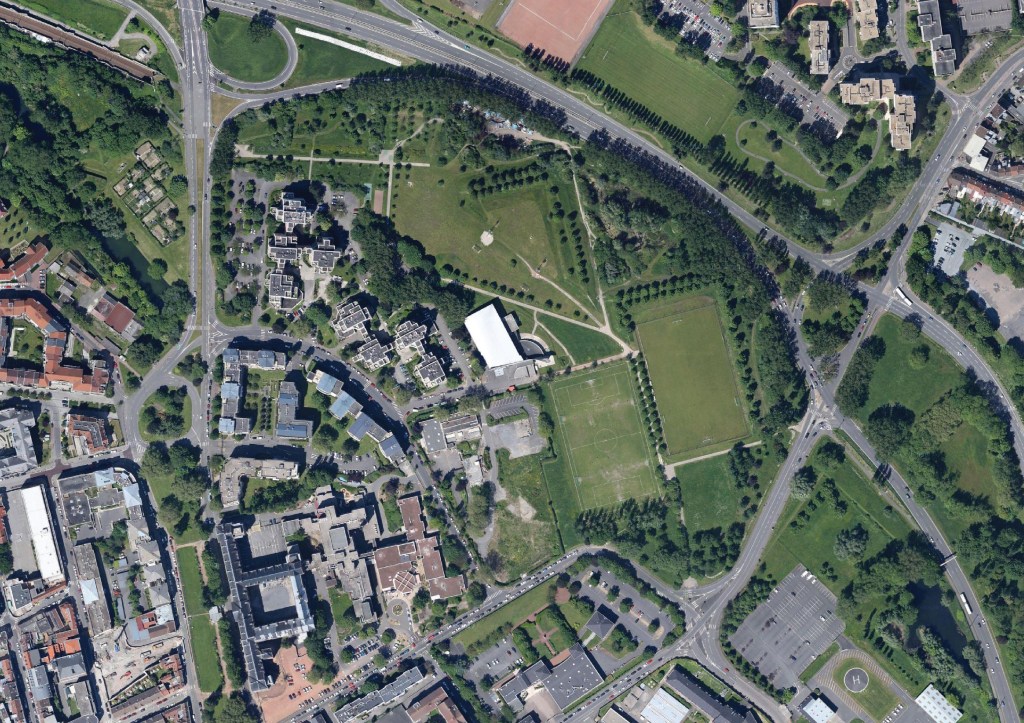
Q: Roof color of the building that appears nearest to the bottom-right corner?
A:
white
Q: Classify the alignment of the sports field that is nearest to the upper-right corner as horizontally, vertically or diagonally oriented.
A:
diagonally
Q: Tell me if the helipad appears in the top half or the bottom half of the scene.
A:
bottom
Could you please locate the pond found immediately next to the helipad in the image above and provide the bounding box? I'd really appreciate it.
[905,583,984,686]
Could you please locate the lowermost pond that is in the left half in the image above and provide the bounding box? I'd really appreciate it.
[100,234,173,306]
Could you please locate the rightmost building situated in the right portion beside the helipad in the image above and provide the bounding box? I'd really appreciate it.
[915,684,963,723]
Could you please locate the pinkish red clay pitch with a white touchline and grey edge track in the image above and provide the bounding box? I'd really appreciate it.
[497,0,612,65]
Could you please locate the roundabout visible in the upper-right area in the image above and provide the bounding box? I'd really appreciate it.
[835,48,863,76]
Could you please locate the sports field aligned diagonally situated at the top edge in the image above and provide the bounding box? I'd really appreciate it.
[578,11,738,148]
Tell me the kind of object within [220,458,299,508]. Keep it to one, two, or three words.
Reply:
building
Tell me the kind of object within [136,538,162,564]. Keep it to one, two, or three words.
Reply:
house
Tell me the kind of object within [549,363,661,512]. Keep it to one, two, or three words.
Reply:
soccer field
